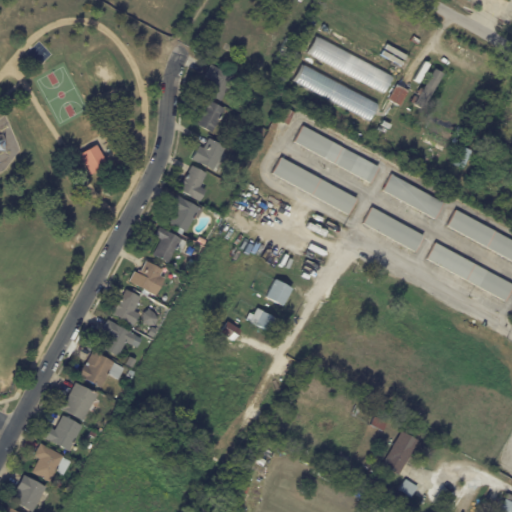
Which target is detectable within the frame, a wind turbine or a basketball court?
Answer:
basketball court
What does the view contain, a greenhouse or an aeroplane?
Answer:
greenhouse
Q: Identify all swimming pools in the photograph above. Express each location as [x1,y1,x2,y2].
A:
[193,212,212,235]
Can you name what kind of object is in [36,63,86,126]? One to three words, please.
basketball court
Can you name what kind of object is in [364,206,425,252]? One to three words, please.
building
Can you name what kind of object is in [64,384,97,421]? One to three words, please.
house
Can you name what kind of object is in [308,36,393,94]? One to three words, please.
greenhouse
